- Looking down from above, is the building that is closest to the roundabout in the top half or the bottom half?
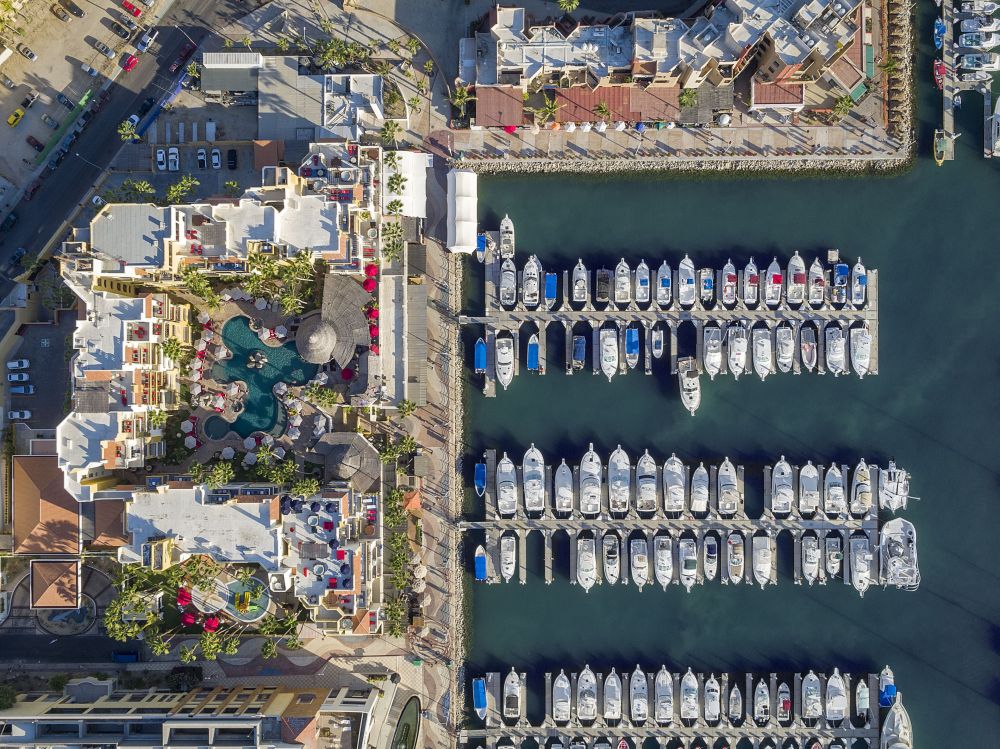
bottom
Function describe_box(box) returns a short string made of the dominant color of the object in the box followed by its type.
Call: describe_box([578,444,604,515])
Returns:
white boat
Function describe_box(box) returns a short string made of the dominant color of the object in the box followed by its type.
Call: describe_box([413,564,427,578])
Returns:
white umbrella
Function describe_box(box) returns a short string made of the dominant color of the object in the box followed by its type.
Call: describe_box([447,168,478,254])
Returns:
white tent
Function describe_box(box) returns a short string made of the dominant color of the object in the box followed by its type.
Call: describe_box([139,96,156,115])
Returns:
black car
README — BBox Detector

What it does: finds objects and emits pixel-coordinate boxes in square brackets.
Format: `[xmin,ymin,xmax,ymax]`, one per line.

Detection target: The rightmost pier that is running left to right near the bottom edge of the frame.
[485,672,883,749]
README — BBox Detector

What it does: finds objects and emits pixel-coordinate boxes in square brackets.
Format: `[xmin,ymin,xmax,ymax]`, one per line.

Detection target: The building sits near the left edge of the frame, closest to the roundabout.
[30,554,95,608]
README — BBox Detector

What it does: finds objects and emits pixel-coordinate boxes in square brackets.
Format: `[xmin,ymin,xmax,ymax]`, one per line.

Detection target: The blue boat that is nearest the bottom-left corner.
[473,675,486,720]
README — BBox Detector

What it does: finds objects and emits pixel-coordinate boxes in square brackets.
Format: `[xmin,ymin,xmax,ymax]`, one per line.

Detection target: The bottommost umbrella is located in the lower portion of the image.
[388,671,402,686]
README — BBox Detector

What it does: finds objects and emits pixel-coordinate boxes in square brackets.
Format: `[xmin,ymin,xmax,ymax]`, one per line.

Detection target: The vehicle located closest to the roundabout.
[109,649,142,664]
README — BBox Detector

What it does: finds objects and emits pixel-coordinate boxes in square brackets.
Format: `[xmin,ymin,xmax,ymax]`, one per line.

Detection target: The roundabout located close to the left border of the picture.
[36,596,97,638]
